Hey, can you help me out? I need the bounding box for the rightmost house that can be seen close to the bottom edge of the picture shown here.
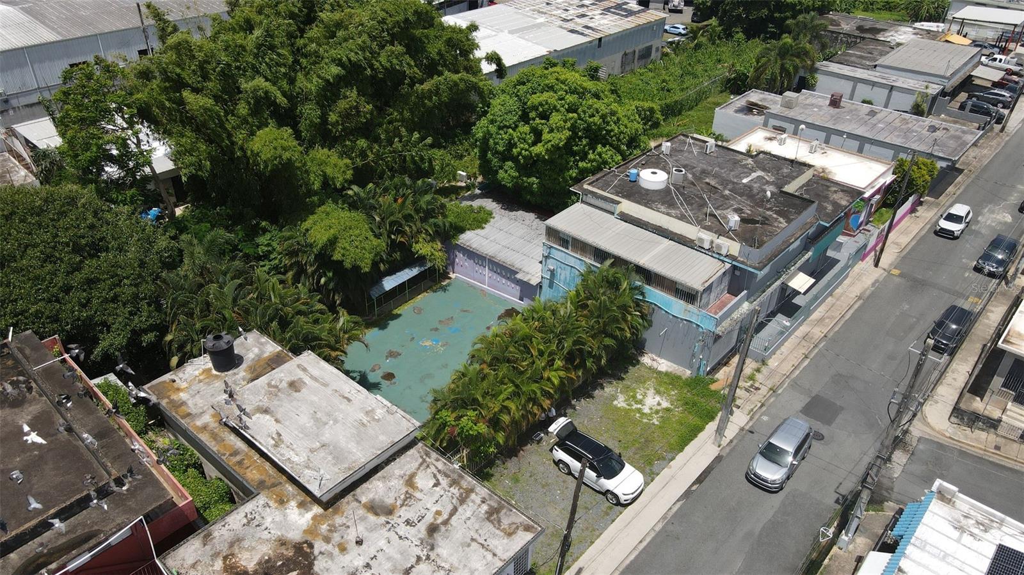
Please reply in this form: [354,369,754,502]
[832,475,1024,575]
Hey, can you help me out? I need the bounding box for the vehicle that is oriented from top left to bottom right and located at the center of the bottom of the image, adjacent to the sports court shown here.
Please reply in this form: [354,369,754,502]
[543,408,649,505]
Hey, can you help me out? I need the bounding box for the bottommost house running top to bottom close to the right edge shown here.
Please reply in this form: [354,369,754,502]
[957,285,1024,447]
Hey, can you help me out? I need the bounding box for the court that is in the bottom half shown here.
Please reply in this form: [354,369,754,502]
[304,270,614,430]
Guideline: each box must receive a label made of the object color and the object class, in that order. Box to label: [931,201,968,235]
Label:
white car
